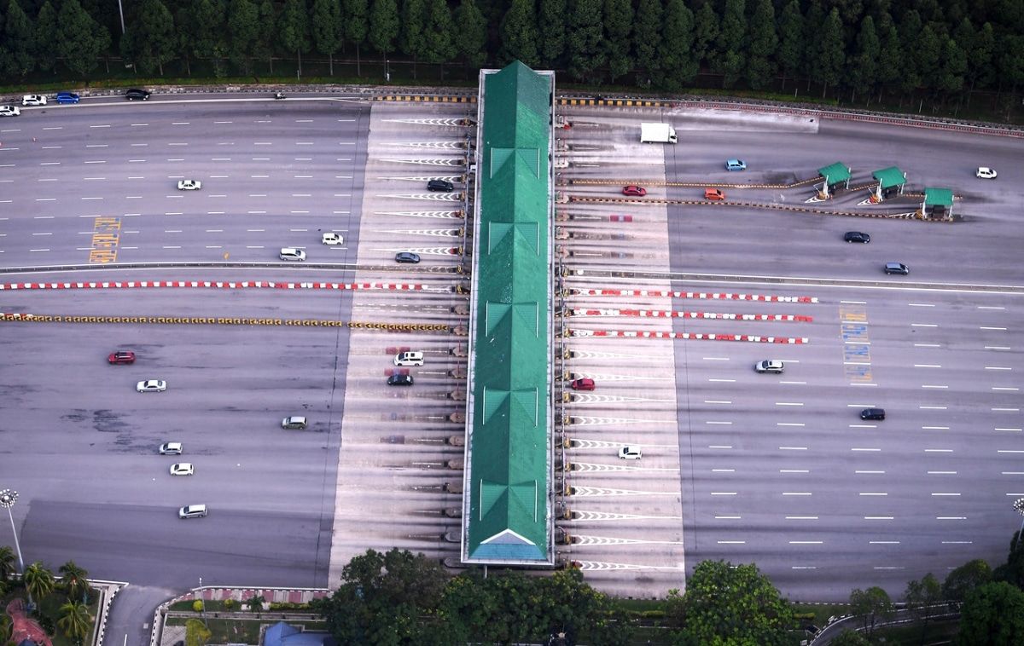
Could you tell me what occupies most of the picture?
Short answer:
paved ground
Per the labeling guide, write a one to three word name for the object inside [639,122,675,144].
truck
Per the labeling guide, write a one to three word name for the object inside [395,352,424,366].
car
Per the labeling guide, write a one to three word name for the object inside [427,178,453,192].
car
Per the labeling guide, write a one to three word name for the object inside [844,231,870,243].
vehicle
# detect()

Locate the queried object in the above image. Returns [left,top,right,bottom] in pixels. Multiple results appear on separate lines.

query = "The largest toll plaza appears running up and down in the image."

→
[462,58,554,585]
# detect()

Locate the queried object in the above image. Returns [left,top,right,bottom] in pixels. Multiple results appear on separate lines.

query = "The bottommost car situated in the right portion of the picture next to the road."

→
[619,446,642,459]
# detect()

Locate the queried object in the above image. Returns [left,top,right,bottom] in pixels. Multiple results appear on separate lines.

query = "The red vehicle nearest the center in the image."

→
[572,379,595,391]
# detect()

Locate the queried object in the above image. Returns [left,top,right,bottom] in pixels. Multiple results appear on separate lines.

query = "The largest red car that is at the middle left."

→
[108,351,136,365]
